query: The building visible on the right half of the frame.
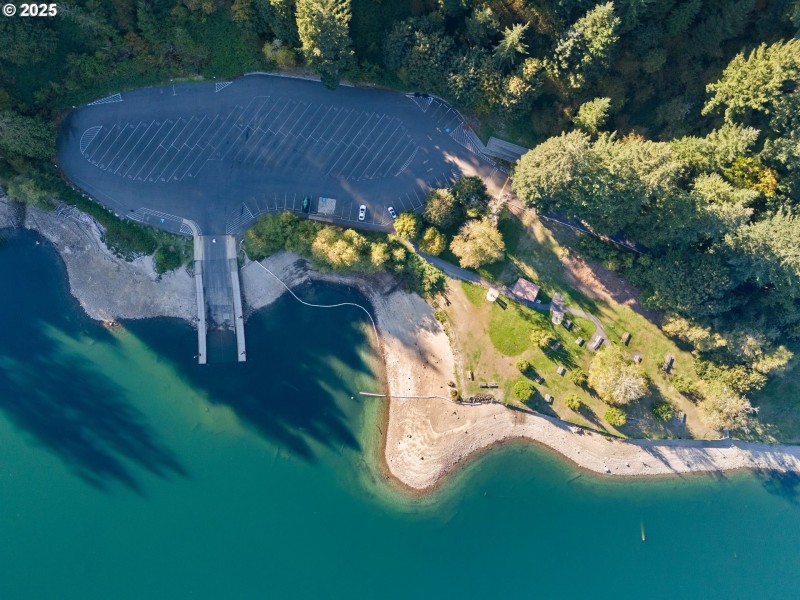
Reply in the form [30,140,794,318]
[512,277,539,301]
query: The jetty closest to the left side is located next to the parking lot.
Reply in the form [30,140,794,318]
[194,235,206,364]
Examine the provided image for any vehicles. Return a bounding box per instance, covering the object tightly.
[387,205,396,220]
[302,195,309,211]
[359,204,366,221]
